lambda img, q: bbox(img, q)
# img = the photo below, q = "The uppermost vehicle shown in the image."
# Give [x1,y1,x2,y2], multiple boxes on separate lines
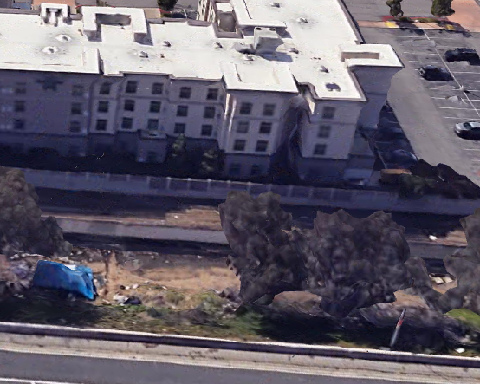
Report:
[446,47,479,62]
